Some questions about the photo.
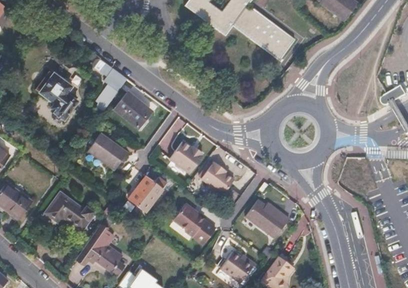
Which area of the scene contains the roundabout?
right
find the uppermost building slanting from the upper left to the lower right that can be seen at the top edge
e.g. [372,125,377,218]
[233,8,296,62]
